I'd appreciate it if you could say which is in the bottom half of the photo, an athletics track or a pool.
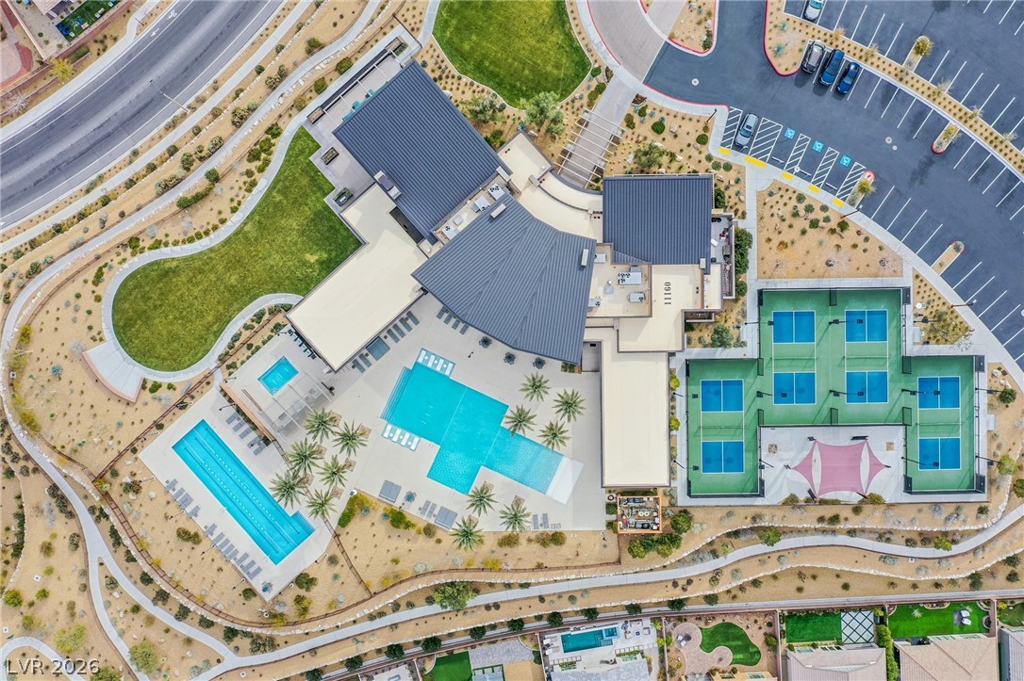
pool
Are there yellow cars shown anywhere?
No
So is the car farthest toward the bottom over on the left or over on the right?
right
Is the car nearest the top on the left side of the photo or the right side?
right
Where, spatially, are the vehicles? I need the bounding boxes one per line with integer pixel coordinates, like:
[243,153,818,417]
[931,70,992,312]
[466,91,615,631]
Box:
[838,59,862,93]
[804,0,824,21]
[802,37,826,72]
[735,110,759,146]
[819,47,847,85]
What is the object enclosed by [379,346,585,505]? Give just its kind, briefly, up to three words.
swimming pool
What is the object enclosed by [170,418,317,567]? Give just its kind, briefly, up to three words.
swimming pool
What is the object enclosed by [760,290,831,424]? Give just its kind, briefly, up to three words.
sports court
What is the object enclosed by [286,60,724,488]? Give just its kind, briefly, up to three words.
building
